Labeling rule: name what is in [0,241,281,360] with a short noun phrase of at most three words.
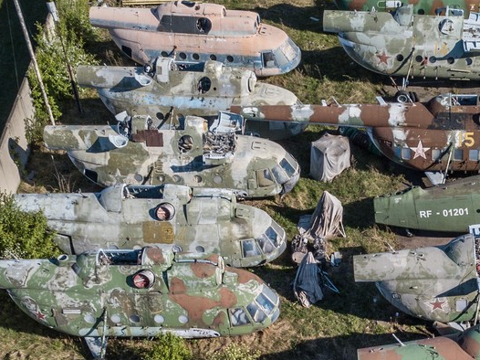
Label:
helicopter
